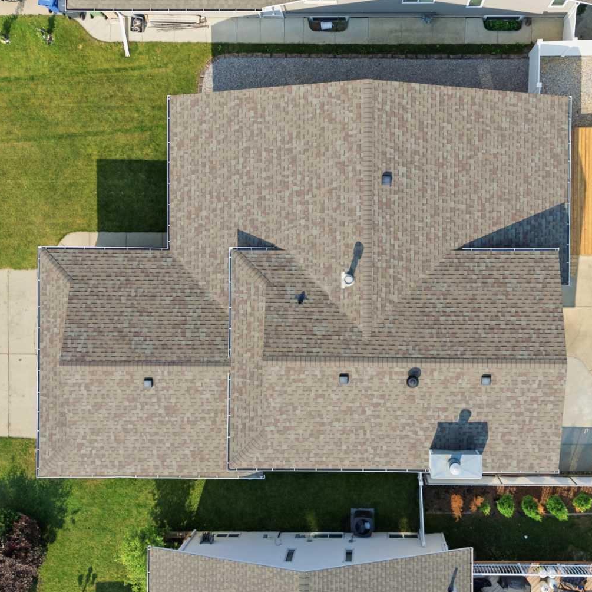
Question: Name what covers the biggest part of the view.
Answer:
buildings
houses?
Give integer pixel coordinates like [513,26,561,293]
[65,0,592,32]
[148,529,472,592]
[38,76,570,479]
